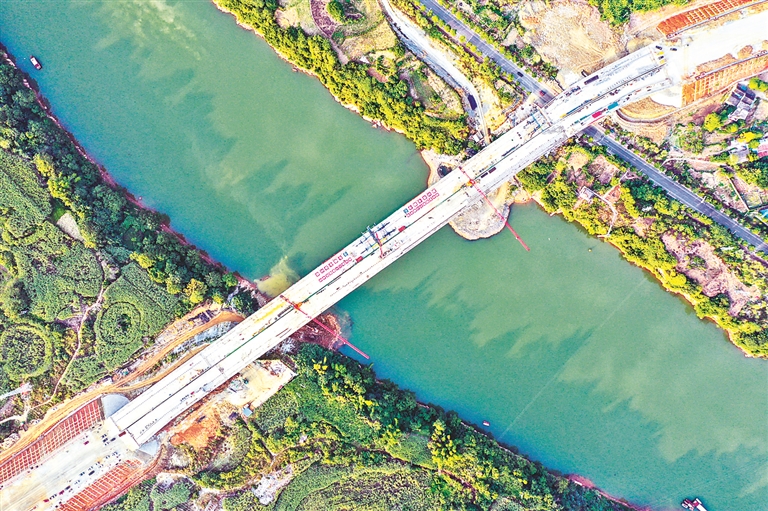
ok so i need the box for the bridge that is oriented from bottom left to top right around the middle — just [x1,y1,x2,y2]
[110,43,674,447]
